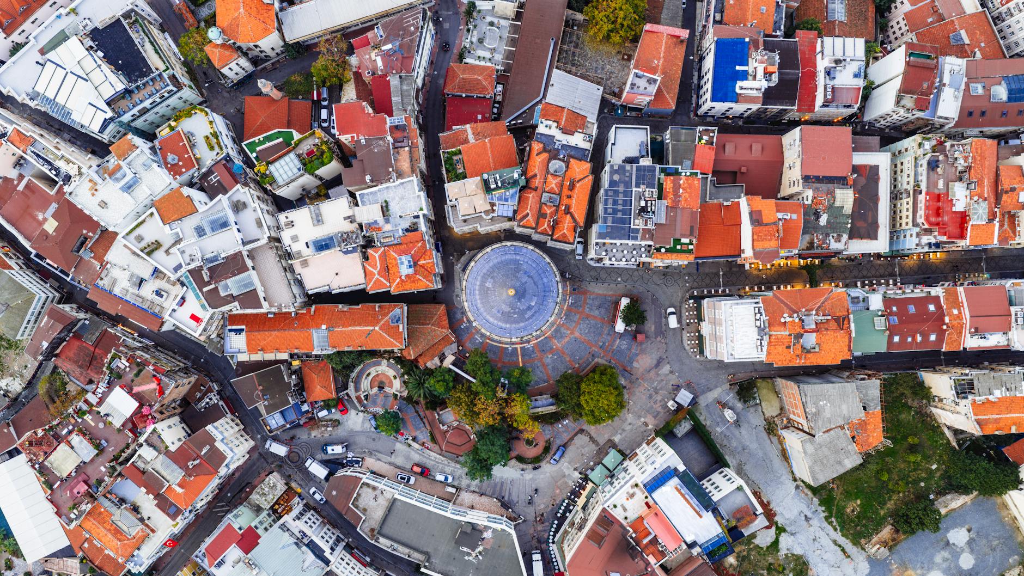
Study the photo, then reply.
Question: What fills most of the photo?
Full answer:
For the most part, this view shows buildings.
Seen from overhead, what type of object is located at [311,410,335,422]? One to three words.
vehicle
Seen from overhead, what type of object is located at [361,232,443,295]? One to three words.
building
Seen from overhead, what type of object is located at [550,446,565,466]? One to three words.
car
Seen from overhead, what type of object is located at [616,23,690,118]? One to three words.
house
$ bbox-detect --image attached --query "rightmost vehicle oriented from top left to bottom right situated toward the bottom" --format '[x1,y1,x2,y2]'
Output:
[716,396,736,421]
